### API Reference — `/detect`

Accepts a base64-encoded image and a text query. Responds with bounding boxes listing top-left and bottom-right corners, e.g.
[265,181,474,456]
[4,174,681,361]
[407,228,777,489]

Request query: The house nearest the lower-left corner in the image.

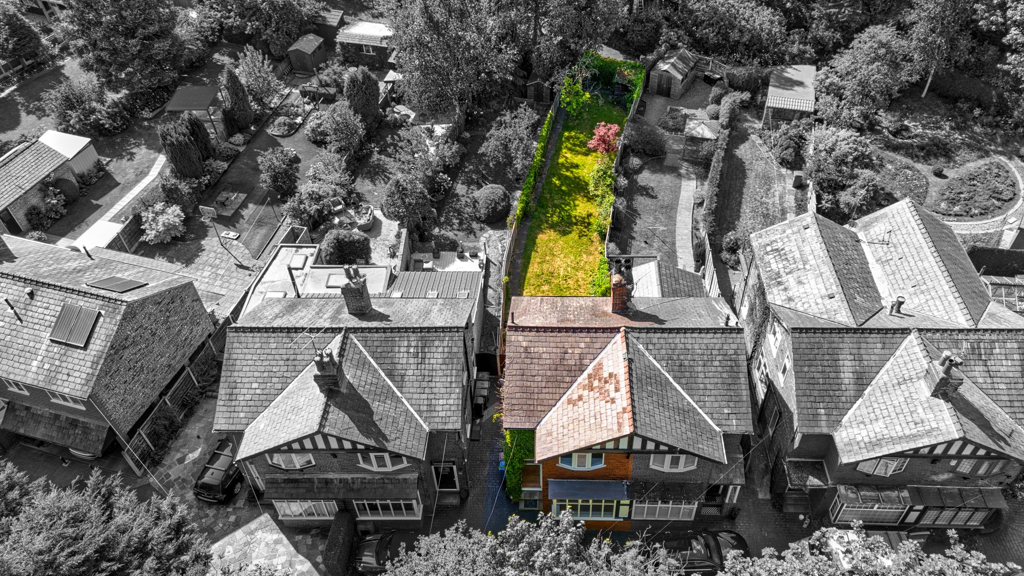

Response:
[0,237,222,463]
